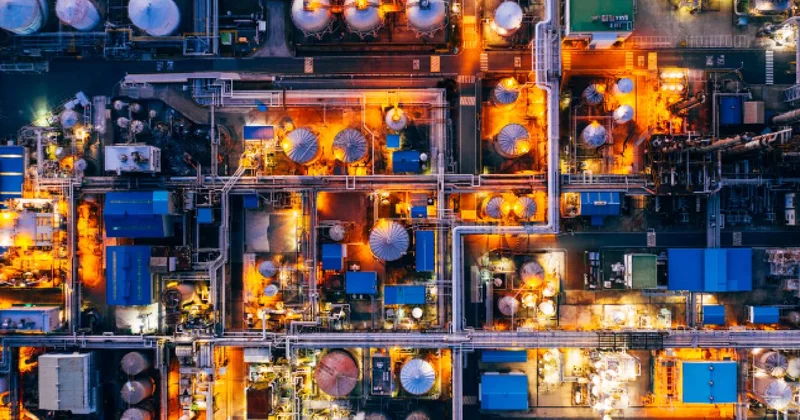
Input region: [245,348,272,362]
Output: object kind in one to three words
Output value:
building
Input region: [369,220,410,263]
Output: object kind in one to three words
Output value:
storage tank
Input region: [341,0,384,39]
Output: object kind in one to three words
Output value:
storage tank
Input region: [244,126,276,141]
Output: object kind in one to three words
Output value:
building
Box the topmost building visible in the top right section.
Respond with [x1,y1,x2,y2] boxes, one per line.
[560,0,634,37]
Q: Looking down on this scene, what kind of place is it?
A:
industrial area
